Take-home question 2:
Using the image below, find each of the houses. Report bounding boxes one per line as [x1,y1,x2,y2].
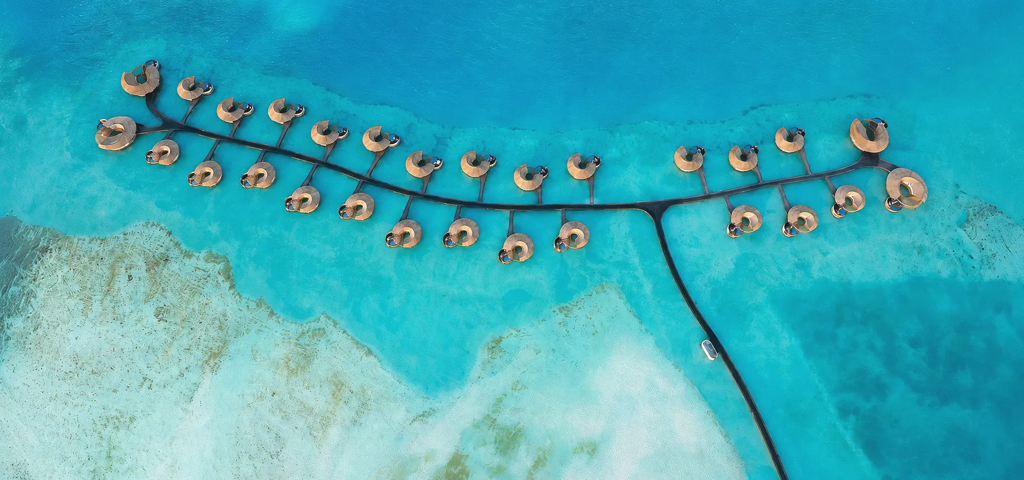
[497,234,534,264]
[461,150,497,179]
[217,98,255,125]
[673,146,704,173]
[848,118,890,152]
[728,206,762,238]
[775,127,804,155]
[567,153,601,181]
[186,162,224,189]
[283,186,321,214]
[338,194,376,221]
[362,126,399,153]
[311,120,348,148]
[514,164,548,192]
[884,170,929,212]
[119,58,161,94]
[728,144,758,174]
[144,141,181,167]
[384,220,423,248]
[240,163,277,190]
[830,187,866,218]
[782,206,818,237]
[443,219,480,247]
[406,151,443,178]
[554,221,590,252]
[268,99,305,125]
[176,76,214,103]
[93,116,138,151]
